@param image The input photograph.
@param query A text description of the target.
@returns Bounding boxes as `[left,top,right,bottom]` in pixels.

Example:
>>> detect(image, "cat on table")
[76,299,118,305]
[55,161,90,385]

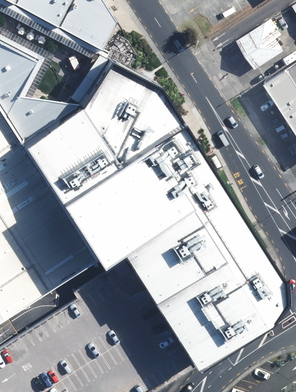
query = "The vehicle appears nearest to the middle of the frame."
[211,154,223,170]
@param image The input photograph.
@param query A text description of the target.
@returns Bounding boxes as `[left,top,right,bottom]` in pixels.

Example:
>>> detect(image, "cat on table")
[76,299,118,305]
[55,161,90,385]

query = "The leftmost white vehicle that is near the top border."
[216,6,236,20]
